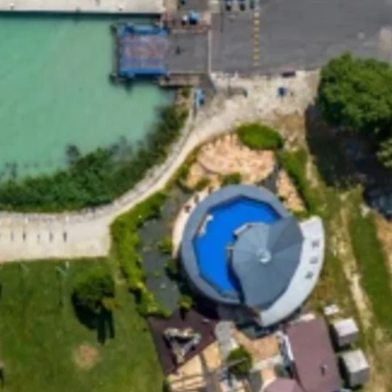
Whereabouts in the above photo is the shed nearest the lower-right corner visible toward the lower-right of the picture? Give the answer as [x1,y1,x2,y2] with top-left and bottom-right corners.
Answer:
[338,349,369,387]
